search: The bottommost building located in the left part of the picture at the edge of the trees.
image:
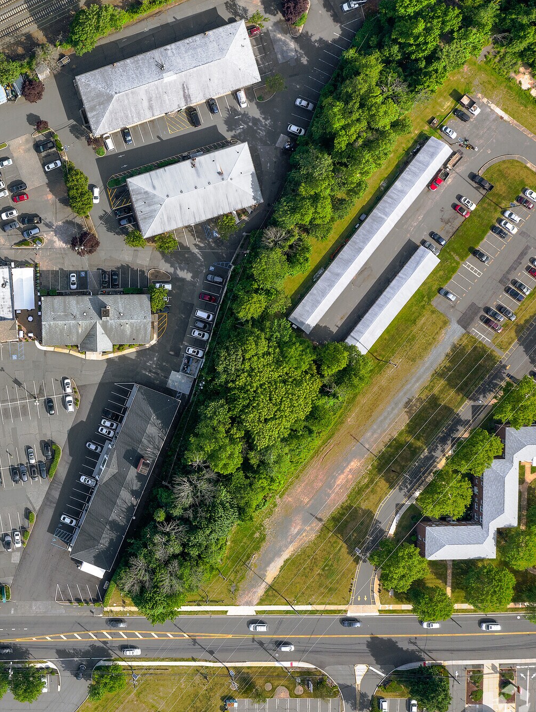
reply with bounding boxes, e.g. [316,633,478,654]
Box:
[70,384,181,577]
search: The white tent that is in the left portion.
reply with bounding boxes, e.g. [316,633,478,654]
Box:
[11,267,35,309]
